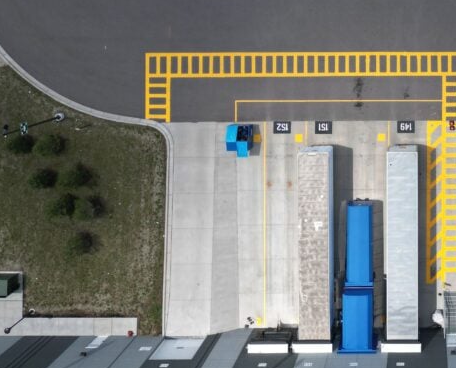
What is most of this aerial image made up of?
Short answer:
paved ground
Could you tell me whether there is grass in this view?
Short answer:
Yes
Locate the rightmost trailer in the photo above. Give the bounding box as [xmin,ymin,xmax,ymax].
[386,145,419,342]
